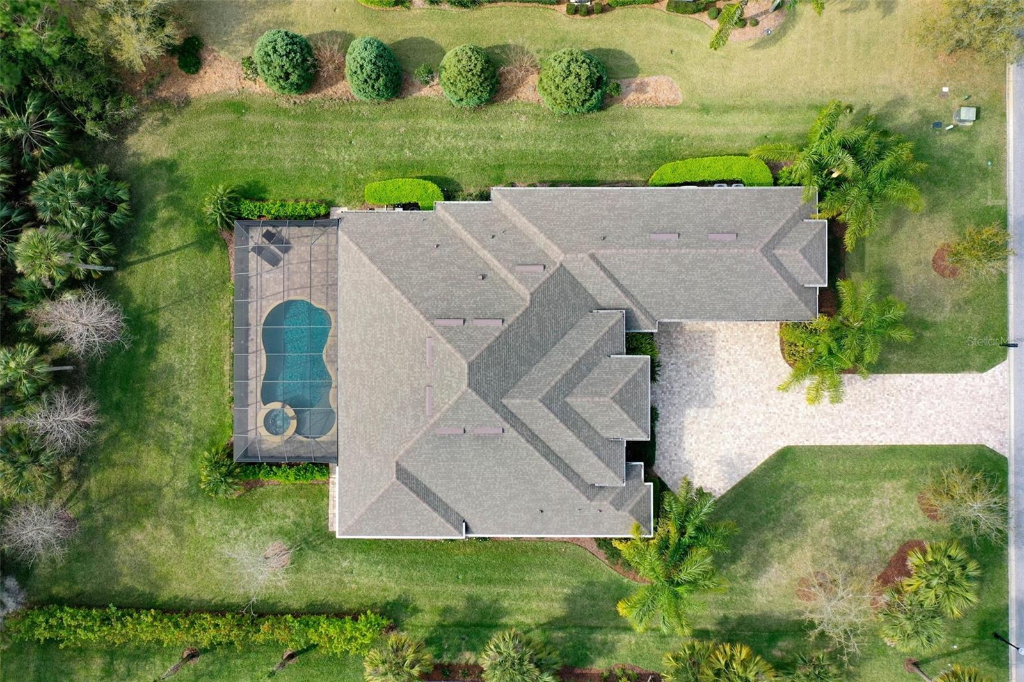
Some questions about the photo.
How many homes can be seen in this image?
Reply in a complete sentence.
The count comes to 1 home.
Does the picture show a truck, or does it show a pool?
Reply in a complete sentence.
The one in the frame is a pool.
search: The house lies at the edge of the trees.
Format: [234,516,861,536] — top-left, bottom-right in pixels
[334,185,829,540]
